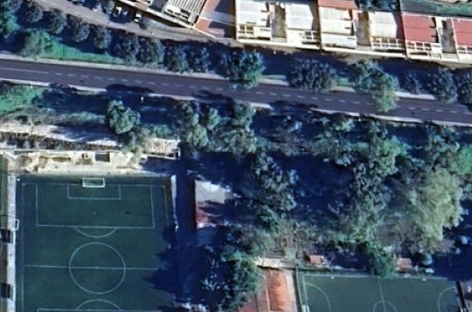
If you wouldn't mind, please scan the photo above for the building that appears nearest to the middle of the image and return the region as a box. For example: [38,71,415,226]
[193,180,228,212]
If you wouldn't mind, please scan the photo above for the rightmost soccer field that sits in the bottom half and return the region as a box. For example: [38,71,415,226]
[17,175,179,312]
